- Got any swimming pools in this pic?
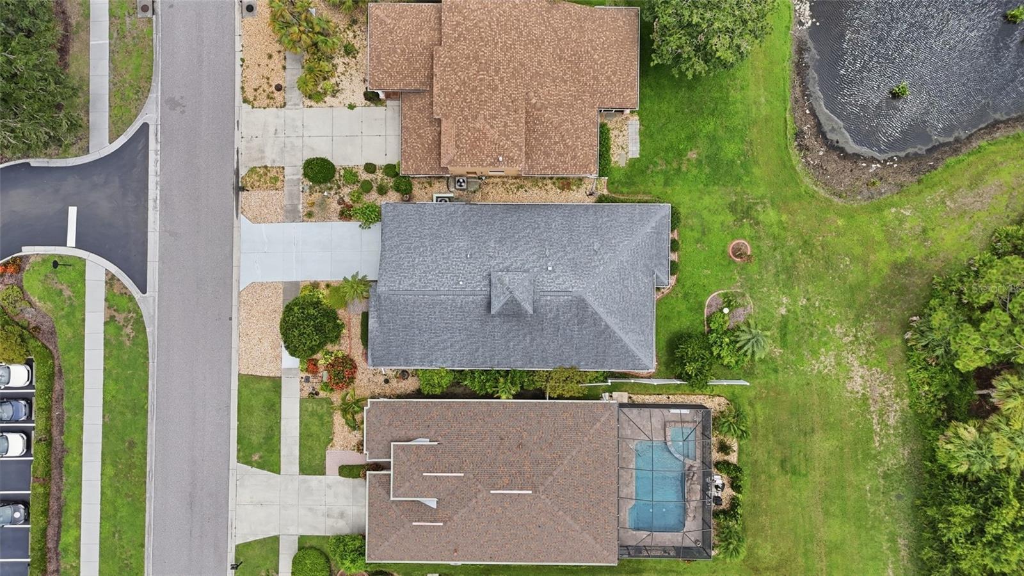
Yes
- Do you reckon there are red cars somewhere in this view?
No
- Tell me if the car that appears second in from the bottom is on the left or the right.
left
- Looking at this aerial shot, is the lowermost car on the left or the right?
left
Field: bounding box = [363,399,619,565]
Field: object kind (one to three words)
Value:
house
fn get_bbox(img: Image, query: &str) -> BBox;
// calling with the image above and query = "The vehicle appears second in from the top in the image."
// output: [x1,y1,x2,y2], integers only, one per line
[0,397,30,425]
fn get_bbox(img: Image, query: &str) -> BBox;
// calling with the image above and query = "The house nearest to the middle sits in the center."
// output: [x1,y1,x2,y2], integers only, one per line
[367,200,673,374]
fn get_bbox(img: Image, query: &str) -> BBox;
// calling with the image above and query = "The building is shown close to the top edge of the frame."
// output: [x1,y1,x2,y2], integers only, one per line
[366,0,641,194]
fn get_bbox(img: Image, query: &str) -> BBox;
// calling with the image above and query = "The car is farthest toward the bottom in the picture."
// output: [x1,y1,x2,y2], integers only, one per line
[0,500,30,529]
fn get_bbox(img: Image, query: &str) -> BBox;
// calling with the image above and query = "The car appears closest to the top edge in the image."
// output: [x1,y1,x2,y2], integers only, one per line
[0,363,33,390]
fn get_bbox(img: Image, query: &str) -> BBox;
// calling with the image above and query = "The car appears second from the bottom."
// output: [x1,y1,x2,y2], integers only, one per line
[0,431,28,459]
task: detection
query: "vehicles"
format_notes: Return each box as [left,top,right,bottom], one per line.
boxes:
[0,363,33,390]
[0,500,30,529]
[0,397,30,425]
[0,431,28,459]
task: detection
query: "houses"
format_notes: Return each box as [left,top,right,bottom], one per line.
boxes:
[363,399,619,565]
[366,0,641,194]
[367,200,673,374]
